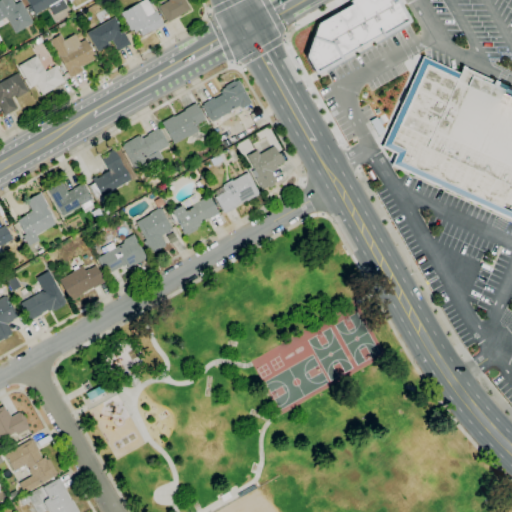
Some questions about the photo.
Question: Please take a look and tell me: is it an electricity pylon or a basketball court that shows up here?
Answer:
basketball court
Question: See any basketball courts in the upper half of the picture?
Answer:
No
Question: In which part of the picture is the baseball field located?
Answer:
bottom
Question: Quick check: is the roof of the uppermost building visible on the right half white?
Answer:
Yes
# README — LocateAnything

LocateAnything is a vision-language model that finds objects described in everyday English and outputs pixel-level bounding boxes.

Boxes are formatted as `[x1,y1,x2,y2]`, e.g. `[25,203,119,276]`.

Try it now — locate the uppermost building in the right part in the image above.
[309,0,416,70]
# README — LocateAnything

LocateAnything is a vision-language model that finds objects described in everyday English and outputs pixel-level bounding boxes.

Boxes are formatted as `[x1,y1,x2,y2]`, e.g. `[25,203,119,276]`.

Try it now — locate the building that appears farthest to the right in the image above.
[383,55,512,218]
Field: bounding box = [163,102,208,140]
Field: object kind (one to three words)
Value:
house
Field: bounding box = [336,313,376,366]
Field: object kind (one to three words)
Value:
basketball court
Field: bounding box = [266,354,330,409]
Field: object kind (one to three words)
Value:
basketball court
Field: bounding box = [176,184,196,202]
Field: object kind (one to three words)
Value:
swimming pool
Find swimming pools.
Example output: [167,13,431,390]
[130,200,150,216]
[176,184,196,202]
[118,226,128,236]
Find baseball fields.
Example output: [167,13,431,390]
[206,486,277,512]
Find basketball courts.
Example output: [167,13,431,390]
[266,354,330,409]
[336,313,376,366]
[309,327,354,379]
